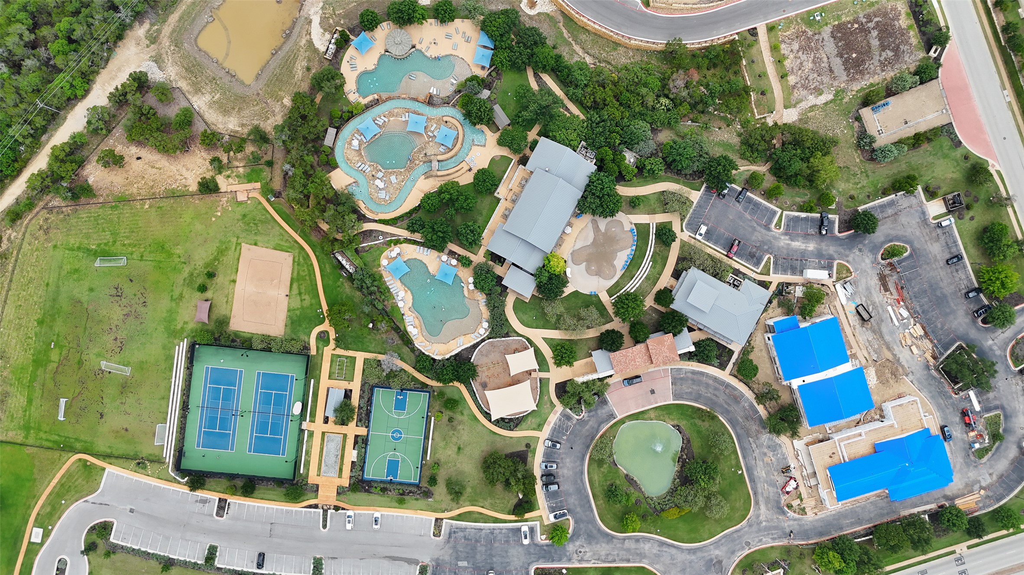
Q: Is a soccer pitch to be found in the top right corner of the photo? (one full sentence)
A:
No, I can find no soccer pitch in the top right corner of the photo.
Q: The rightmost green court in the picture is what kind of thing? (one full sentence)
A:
The rightmost green court is a basketball court.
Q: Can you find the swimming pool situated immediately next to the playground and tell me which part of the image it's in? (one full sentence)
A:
The swimming pool situated immediately next to the playground appears toward the center of the photo.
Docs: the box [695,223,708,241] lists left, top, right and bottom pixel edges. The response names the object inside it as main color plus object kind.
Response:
white vehicle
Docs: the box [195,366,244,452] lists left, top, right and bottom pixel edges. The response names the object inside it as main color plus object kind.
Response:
blue tennis court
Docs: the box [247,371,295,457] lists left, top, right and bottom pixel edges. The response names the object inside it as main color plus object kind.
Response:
blue tennis court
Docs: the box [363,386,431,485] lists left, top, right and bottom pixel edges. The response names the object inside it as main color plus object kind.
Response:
green basketball court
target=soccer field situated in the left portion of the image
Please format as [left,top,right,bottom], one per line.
[24,229,189,461]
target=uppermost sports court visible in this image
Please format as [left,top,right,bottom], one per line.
[229,243,294,337]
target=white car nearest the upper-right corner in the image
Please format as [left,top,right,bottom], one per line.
[936,216,954,228]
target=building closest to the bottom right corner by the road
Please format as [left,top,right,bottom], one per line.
[804,396,954,509]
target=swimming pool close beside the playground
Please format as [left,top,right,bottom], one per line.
[398,257,484,346]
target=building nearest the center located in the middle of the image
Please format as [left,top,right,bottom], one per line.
[502,265,535,298]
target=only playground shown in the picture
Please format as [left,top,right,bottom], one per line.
[470,336,541,419]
